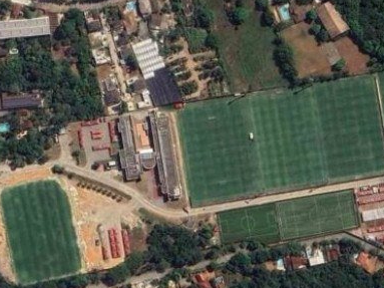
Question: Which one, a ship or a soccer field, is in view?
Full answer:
The one in the frame is a soccer field.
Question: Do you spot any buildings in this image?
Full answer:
Yes, the image includes a building.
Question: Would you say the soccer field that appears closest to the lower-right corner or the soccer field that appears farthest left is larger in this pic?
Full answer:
It is the soccer field that appears farthest left that is larger, not the soccer field that appears closest to the lower-right corner.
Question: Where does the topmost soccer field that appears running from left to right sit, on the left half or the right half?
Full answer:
The topmost soccer field that appears running from left to right sits on the right side.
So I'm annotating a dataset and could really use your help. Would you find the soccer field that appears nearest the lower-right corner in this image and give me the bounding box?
[278,191,359,238]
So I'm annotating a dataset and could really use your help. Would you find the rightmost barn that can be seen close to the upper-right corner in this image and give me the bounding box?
[317,1,350,38]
